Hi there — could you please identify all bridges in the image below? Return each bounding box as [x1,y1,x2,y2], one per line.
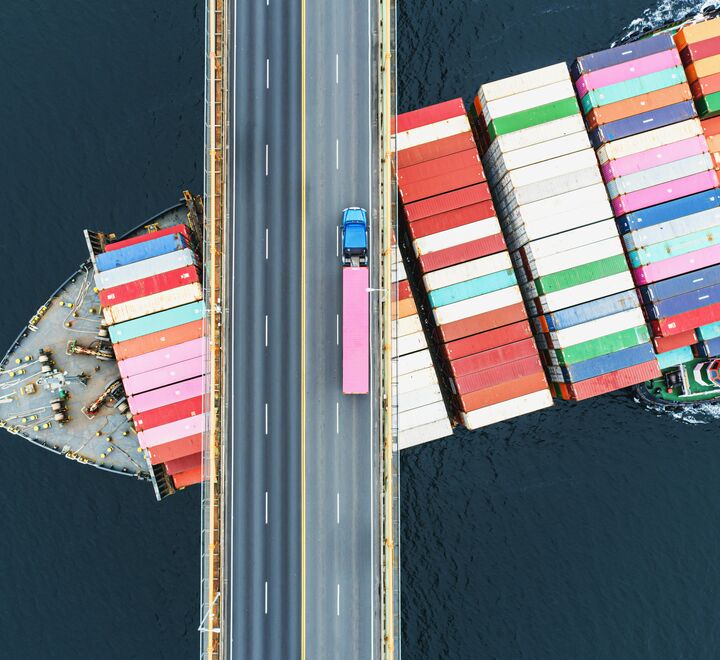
[200,0,399,660]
